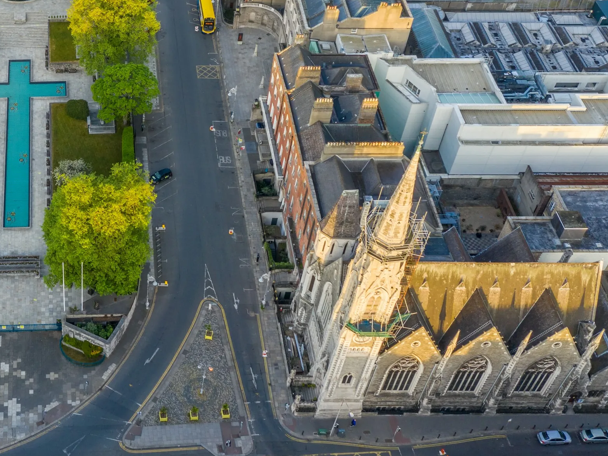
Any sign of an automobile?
Yes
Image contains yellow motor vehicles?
Yes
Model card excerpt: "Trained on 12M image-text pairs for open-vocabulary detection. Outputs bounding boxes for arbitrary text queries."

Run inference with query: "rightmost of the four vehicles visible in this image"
[579,428,608,445]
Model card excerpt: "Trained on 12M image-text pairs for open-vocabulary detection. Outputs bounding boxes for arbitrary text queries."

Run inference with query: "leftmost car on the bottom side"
[535,429,575,447]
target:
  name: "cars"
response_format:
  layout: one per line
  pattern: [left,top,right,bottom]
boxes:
[579,428,608,445]
[150,168,175,184]
[535,429,575,447]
